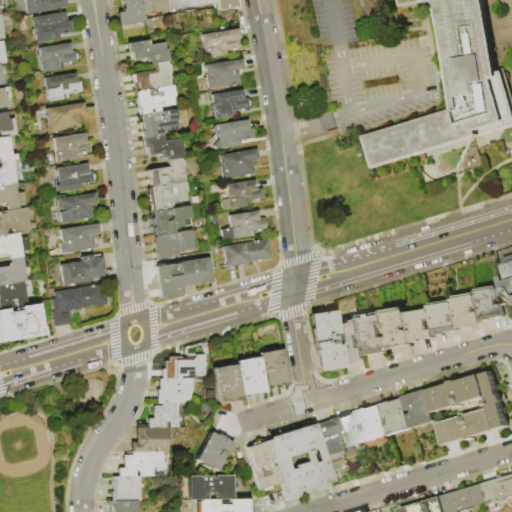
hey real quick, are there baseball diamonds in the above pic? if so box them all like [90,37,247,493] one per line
[0,414,50,478]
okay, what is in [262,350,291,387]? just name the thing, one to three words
building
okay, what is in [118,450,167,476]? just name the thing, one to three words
house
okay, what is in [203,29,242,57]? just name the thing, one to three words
house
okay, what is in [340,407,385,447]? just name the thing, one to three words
building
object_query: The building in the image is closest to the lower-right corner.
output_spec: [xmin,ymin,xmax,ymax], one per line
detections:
[479,474,512,504]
